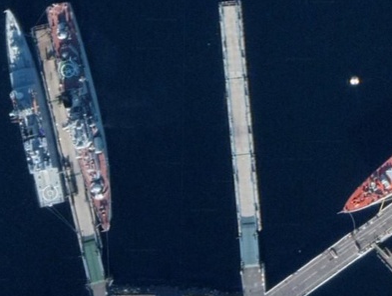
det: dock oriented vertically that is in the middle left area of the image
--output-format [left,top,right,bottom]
[30,20,98,240]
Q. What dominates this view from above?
water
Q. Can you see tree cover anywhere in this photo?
No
